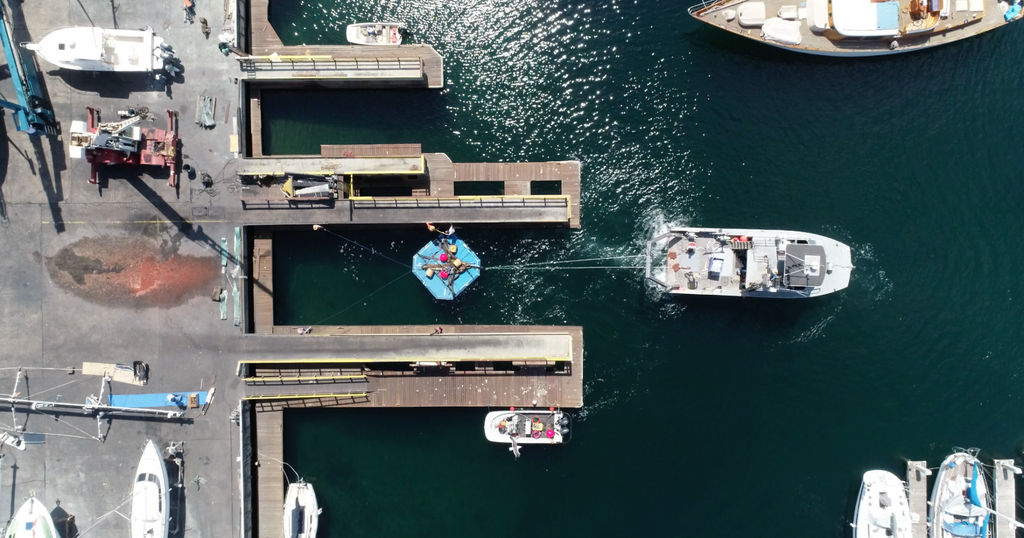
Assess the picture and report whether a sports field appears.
No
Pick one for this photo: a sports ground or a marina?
marina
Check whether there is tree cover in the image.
No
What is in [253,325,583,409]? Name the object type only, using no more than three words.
pier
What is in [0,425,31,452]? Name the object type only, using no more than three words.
boat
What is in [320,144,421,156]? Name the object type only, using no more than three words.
pier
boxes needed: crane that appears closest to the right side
[70,103,181,189]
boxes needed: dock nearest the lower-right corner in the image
[992,459,1017,538]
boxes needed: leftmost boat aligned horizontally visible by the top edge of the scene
[20,0,184,78]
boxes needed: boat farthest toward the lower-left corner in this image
[1,492,59,538]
